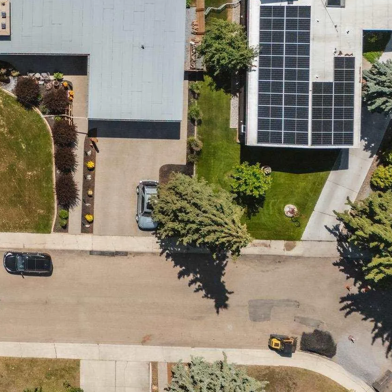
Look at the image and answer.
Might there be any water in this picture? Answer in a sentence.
No, there is no water in the image.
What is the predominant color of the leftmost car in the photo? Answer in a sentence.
The leftmost car is black.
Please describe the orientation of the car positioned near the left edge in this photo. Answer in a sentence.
The car positioned near the left edge is oriented from side to side.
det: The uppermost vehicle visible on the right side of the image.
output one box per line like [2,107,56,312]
[272,332,303,353]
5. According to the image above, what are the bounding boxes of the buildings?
[231,0,392,149]
[0,0,185,121]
